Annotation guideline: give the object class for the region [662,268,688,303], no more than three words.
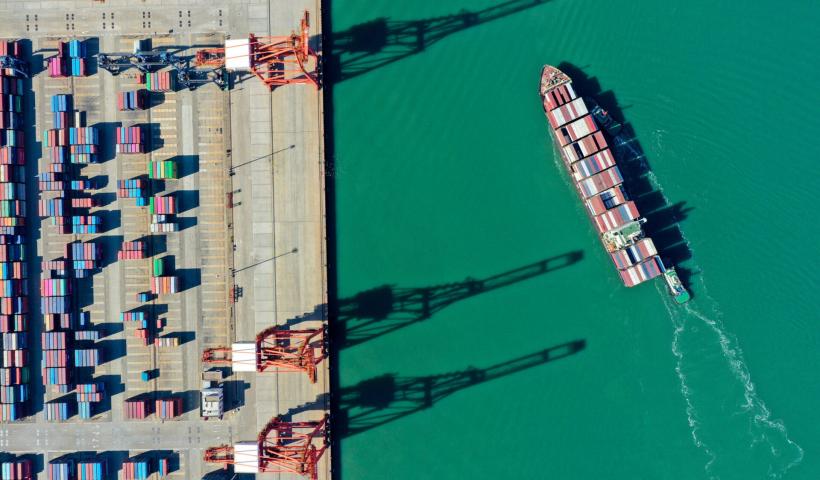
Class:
boat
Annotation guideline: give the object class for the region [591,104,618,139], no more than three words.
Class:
boat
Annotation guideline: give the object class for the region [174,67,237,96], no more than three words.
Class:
container crane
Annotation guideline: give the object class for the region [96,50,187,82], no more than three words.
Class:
container crane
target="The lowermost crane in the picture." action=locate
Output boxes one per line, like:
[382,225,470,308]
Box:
[203,407,329,480]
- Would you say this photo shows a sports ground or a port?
port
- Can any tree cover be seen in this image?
No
